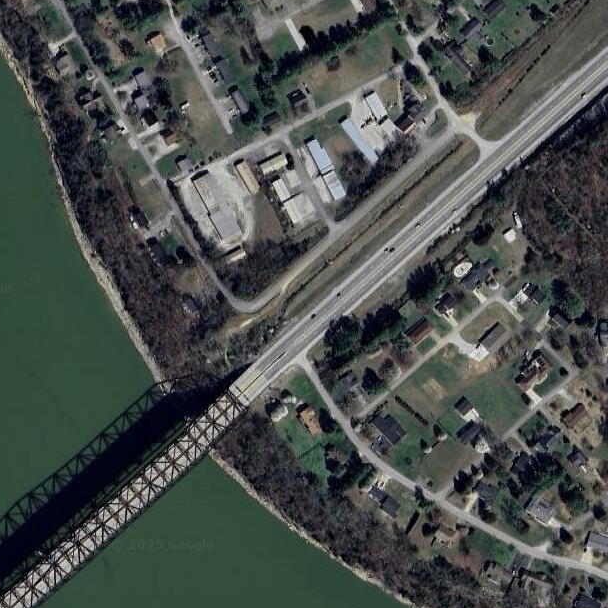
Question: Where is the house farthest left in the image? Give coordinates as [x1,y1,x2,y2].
[51,54,74,76]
